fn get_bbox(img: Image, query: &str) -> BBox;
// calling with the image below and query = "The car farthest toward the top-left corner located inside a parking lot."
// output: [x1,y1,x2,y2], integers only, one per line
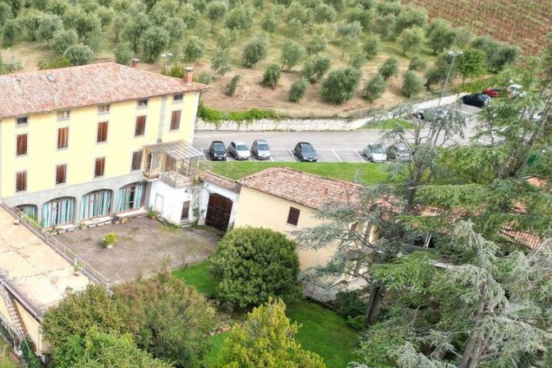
[209,137,227,157]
